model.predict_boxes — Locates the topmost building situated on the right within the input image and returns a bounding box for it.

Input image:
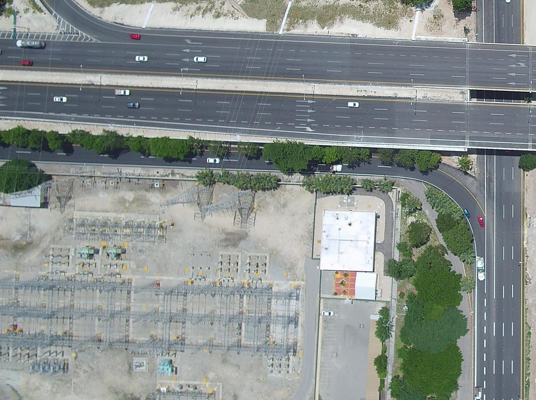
[320,207,381,271]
